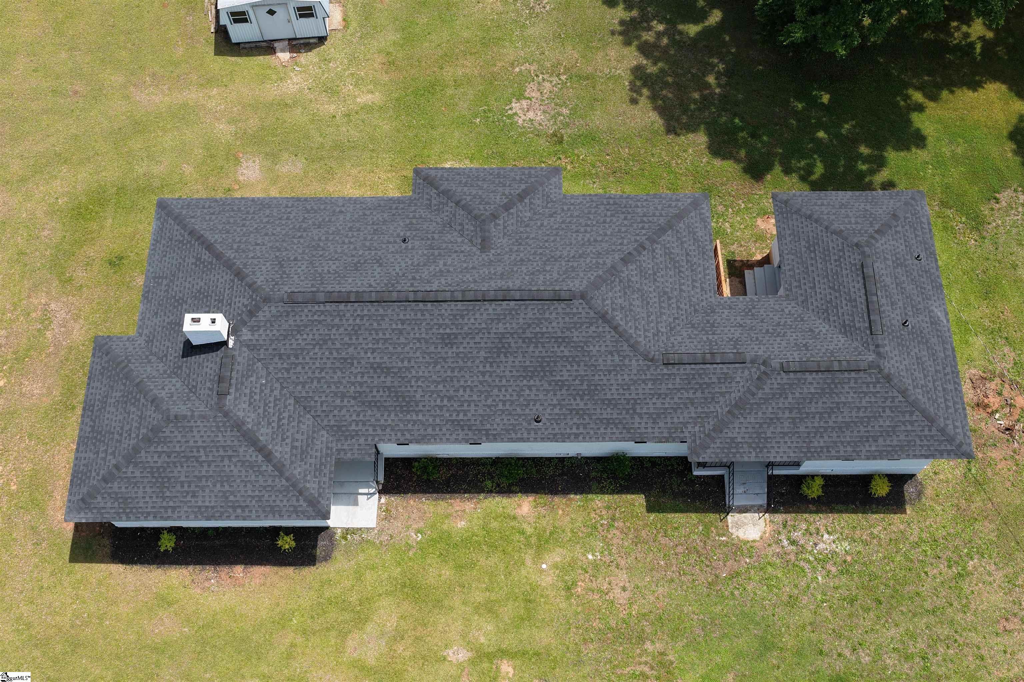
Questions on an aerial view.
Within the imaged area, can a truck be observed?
No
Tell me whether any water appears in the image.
No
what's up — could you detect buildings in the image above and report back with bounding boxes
[217,0,330,45]
[64,165,974,530]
